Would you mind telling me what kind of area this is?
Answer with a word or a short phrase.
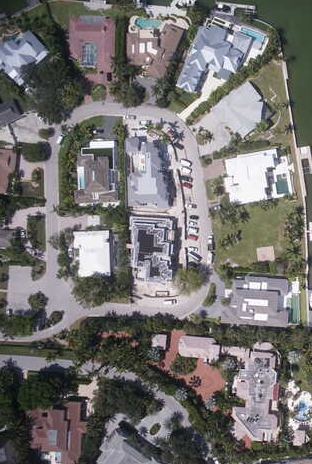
residential area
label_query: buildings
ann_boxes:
[127,24,186,83]
[125,136,176,208]
[224,149,280,204]
[229,351,284,443]
[0,28,48,88]
[208,80,273,145]
[68,15,117,73]
[292,430,307,447]
[0,148,20,196]
[74,230,115,275]
[0,88,32,125]
[95,429,169,464]
[152,333,168,348]
[0,228,18,249]
[171,17,259,96]
[179,335,220,359]
[27,399,84,464]
[221,275,291,327]
[125,218,175,279]
[0,442,22,464]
